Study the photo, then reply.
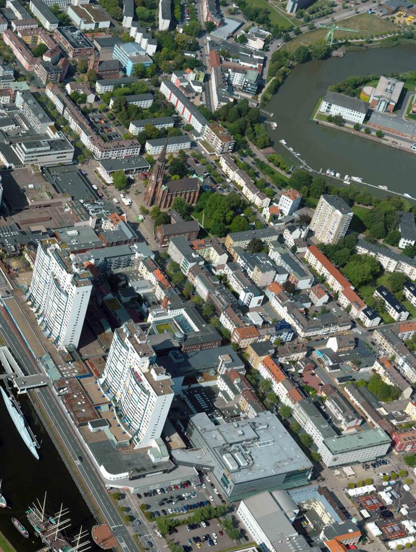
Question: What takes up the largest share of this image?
buildings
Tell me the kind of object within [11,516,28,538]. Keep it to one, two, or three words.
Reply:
boat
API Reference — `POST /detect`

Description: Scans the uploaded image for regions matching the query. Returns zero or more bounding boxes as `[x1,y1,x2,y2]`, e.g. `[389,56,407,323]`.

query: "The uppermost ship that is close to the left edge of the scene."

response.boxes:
[0,385,40,459]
